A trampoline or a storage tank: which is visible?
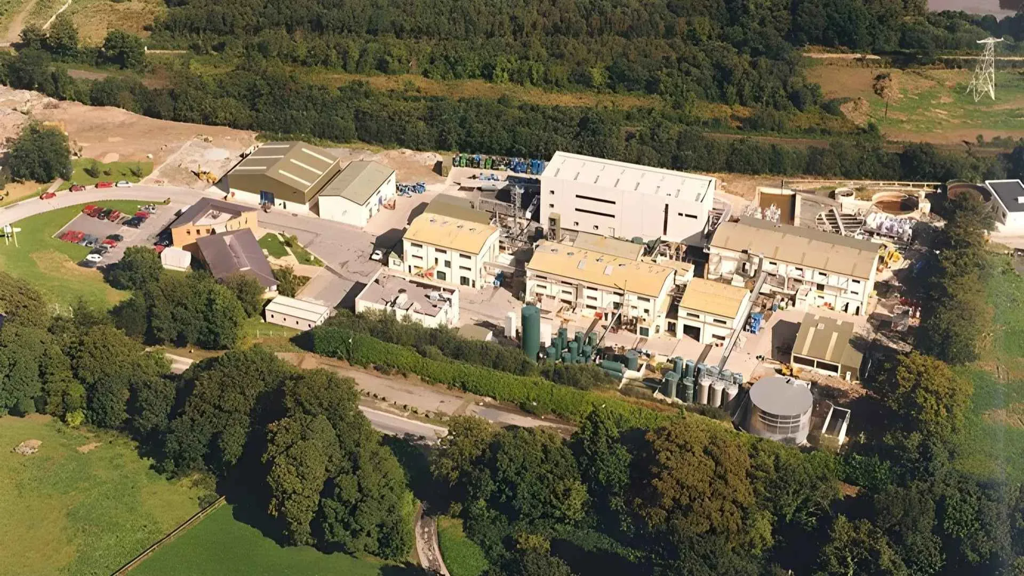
storage tank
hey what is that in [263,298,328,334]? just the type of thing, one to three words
building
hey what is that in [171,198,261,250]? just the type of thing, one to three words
building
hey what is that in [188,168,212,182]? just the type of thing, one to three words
work vehicle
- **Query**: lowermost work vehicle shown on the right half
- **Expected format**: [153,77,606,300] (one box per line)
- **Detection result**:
[764,356,794,376]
